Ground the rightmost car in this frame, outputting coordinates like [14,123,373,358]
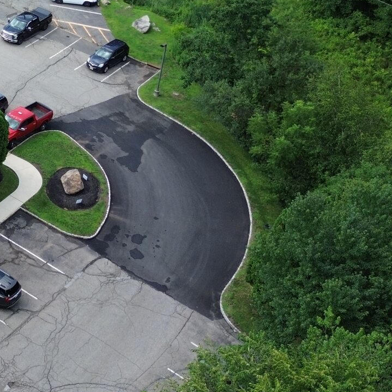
[84,36,133,72]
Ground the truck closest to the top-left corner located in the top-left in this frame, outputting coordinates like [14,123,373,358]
[0,5,55,44]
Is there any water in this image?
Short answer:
No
